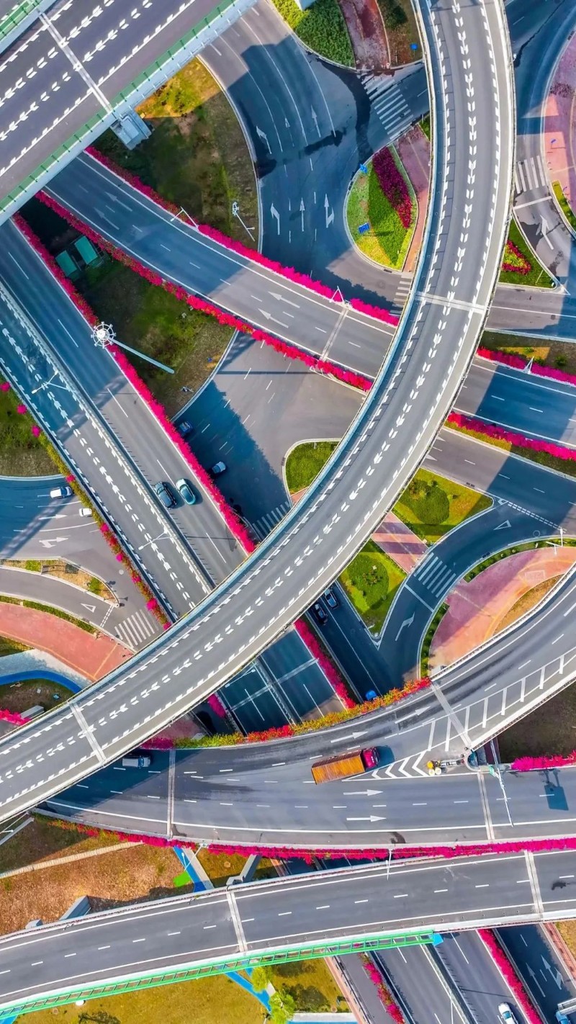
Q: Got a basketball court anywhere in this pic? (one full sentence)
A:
No, no basketball court is visible in the scene.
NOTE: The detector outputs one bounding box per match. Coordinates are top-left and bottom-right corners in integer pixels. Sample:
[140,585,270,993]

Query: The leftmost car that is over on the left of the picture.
[45,486,72,499]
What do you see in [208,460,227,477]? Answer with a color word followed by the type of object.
blue car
